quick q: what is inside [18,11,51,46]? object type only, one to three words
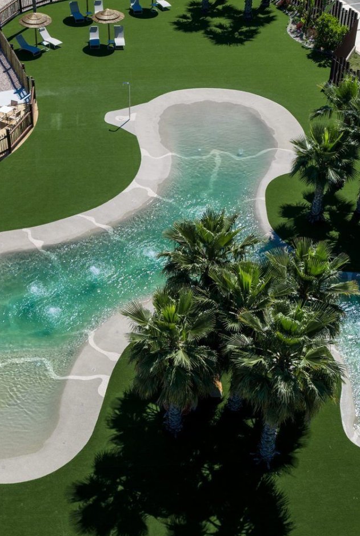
umbrella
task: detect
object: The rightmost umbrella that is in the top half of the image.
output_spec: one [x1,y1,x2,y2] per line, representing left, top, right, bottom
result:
[92,10,125,45]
